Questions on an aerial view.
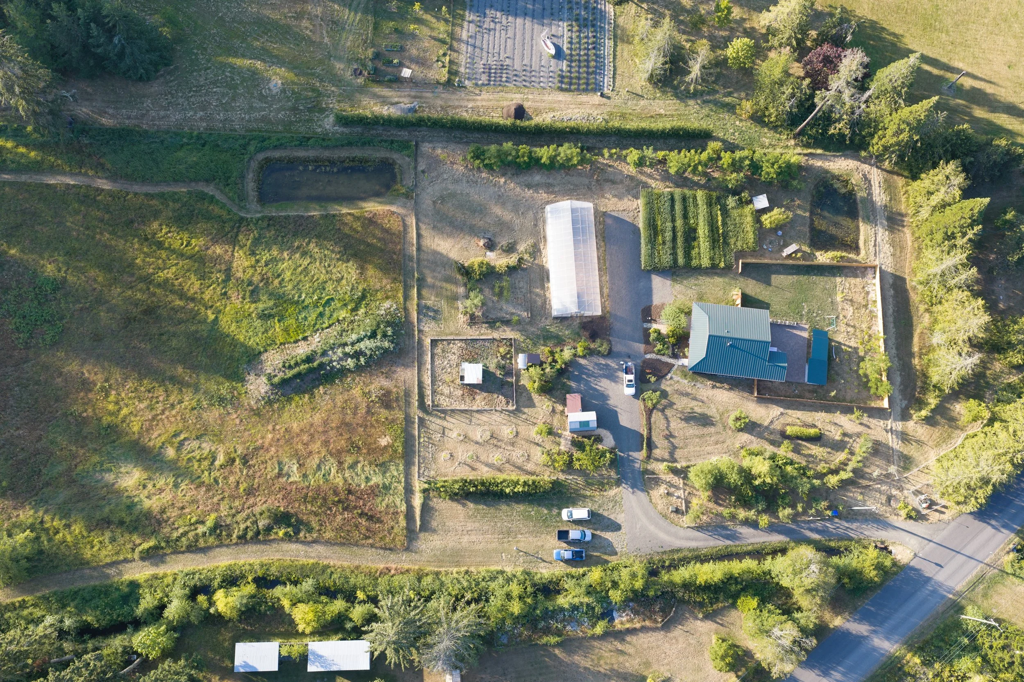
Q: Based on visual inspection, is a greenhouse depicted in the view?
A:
Yes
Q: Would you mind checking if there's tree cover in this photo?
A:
Yes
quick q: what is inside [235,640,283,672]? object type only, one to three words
barn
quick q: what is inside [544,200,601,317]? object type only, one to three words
greenhouse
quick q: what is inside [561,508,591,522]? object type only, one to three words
car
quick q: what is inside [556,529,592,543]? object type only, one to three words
vehicle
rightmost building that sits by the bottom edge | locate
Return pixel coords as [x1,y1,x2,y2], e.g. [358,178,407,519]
[308,638,371,672]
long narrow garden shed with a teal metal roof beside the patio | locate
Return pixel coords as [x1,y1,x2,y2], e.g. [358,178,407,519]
[803,330,828,385]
